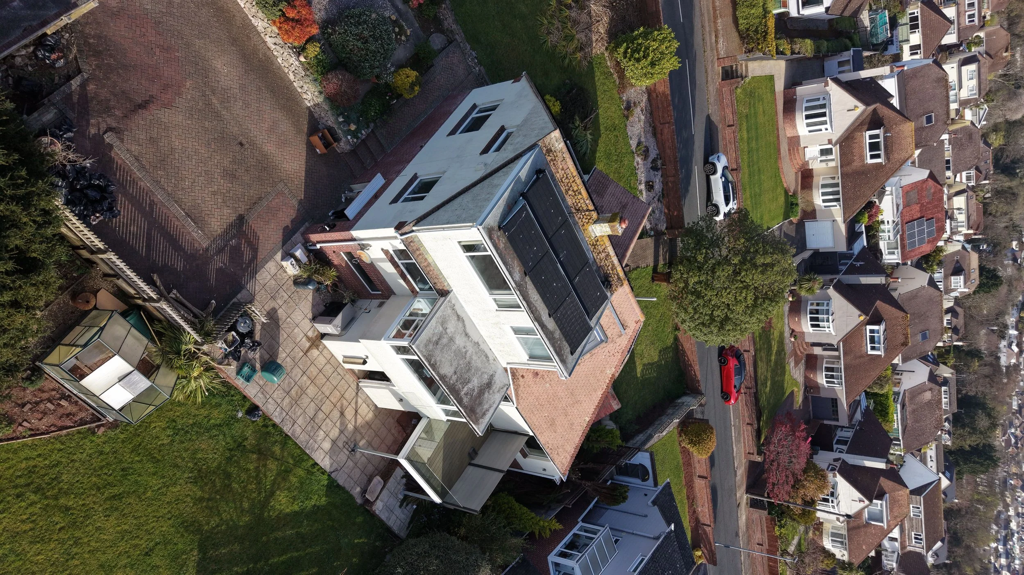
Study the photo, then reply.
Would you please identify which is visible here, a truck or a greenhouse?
greenhouse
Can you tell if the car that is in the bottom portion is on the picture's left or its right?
right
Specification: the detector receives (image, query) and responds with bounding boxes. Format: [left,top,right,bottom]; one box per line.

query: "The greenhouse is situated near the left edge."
[38,309,184,431]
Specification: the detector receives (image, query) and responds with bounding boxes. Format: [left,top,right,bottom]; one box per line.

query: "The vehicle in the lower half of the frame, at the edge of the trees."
[717,346,748,409]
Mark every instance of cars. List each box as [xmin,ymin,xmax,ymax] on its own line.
[704,158,739,221]
[717,346,748,409]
